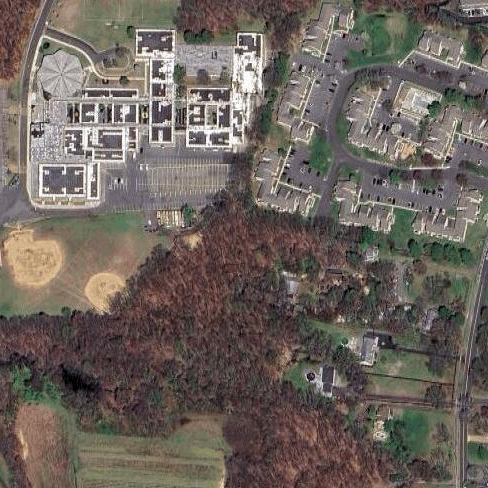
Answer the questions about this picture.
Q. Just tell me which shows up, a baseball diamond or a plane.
baseball diamond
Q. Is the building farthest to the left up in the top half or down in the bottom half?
top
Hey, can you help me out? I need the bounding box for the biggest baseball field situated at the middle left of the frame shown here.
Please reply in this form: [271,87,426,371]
[1,227,63,286]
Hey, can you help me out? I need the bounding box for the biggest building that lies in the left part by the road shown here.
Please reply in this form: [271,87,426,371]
[31,29,264,200]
